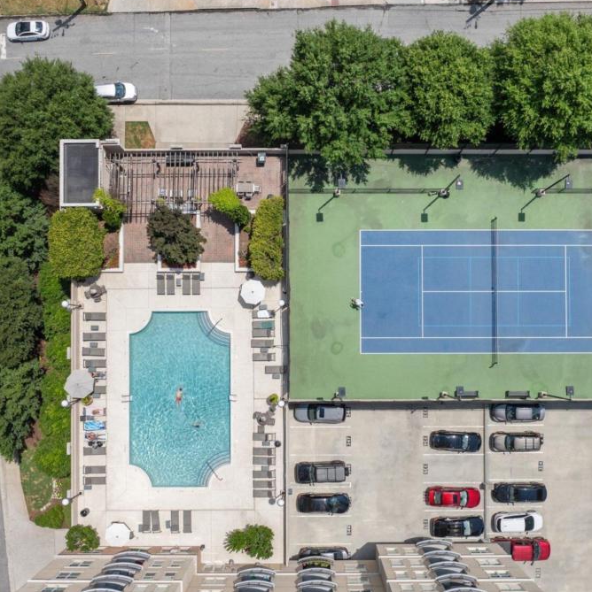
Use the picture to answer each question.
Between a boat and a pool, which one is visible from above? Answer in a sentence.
The image shows a pool.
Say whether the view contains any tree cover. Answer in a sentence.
Yes, the picture does contain tree cover.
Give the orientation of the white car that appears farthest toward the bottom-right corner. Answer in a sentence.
The white car that appears farthest toward the bottom-right corner is oriented horizontally.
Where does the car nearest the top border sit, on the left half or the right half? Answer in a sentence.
The car nearest the top border is on the left side of the image.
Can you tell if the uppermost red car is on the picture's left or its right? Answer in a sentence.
The uppermost red car appears in the right half of the scene.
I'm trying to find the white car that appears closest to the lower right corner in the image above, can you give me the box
[491,511,542,537]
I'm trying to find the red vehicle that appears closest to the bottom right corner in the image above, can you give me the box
[484,538,548,566]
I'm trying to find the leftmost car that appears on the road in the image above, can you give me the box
[7,18,52,43]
